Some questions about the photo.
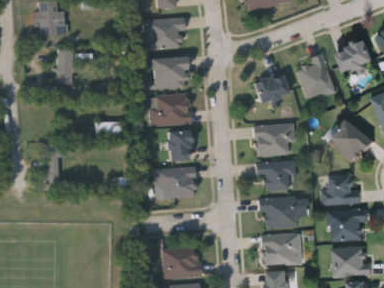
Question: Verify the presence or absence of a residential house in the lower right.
Yes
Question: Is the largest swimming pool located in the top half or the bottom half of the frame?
top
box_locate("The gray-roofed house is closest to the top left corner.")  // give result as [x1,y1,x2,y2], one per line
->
[34,1,68,36]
